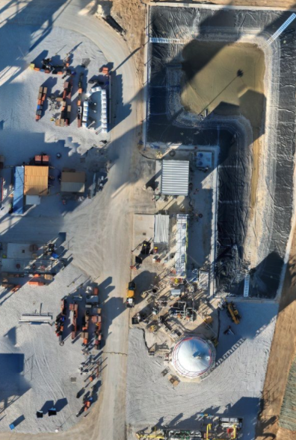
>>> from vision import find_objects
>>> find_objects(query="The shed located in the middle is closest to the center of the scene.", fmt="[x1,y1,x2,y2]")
[160,160,189,196]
